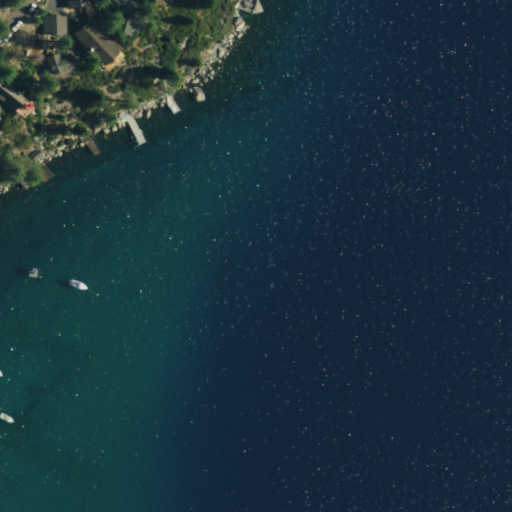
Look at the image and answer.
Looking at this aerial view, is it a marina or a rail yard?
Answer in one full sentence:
This looks like a marina.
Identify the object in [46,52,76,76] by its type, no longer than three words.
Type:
house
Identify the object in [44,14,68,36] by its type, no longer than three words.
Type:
house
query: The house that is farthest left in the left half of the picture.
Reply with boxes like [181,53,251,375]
[0,80,34,118]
